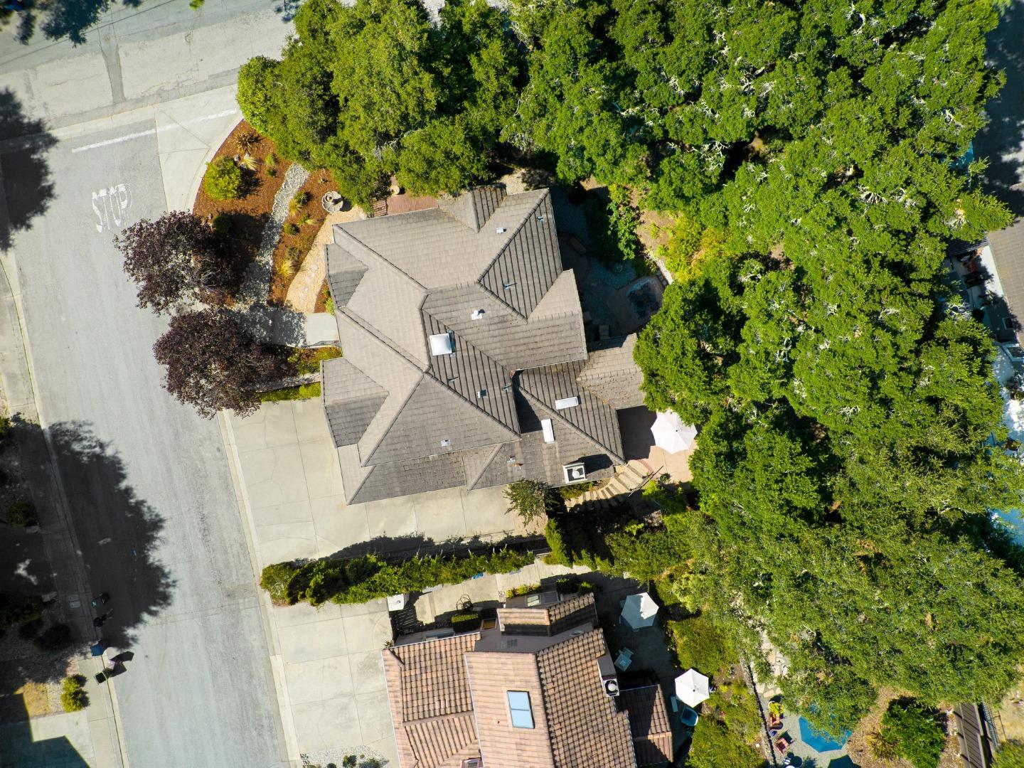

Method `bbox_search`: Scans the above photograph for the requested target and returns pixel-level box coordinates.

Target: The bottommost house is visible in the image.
[381,578,674,768]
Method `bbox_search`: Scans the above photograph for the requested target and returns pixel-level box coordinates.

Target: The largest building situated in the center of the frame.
[320,183,649,507]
